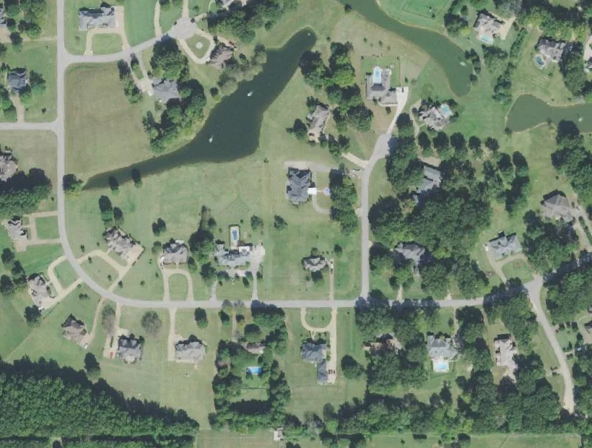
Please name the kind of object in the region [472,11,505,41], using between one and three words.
house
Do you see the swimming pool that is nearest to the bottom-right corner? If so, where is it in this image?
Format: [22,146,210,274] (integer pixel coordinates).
[433,359,449,372]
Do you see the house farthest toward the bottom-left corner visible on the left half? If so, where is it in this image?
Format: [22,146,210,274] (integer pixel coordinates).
[59,316,87,345]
